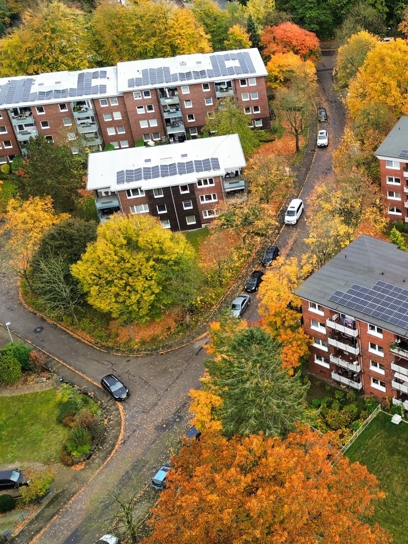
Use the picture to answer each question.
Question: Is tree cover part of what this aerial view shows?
Yes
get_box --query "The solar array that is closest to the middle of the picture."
[117,159,221,185]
